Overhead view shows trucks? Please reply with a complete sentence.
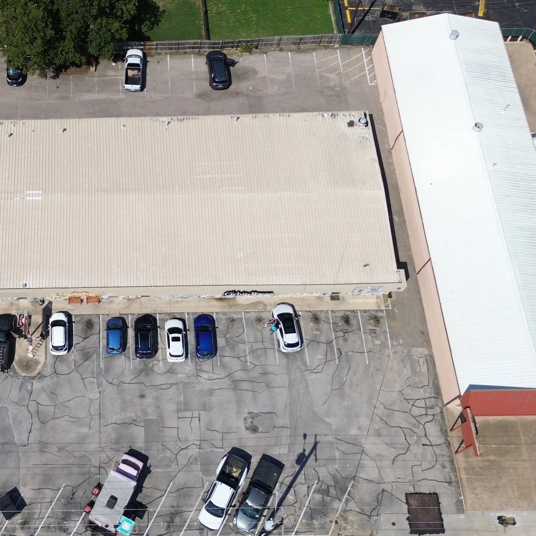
Yes, a truck can be made out from above.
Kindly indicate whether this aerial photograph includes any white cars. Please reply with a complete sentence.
Yes, I can see a white car in this picture.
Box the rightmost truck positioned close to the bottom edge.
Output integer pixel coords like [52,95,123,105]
[235,456,283,536]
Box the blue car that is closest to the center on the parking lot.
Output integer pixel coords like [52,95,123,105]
[194,318,216,360]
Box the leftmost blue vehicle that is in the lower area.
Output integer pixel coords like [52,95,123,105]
[106,320,127,356]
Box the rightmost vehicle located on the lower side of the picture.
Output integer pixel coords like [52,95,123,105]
[266,306,301,355]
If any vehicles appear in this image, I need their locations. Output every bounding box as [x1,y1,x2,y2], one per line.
[194,318,216,360]
[235,456,283,536]
[266,306,301,355]
[165,321,187,364]
[124,49,143,94]
[207,52,235,91]
[135,318,158,362]
[201,451,251,534]
[106,320,127,356]
[87,457,146,536]
[0,317,20,375]
[47,316,70,358]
